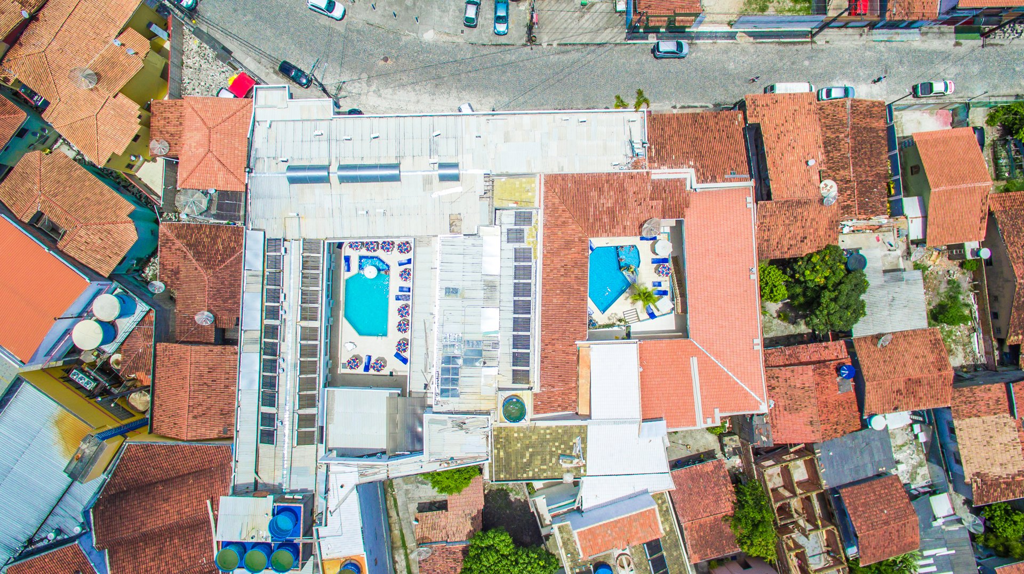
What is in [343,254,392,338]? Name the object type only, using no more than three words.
swimming pool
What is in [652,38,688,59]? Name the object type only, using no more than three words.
car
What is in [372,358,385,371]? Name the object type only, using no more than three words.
umbrella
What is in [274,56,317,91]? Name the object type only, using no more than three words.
car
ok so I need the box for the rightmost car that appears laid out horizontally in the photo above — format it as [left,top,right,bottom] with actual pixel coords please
[913,78,953,98]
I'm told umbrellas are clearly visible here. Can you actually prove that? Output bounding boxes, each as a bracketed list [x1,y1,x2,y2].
[365,242,378,253]
[372,358,385,371]
[347,355,360,368]
[363,265,378,280]
[396,341,409,354]
[349,243,362,251]
[398,320,409,333]
[654,295,674,313]
[657,264,671,278]
[399,270,410,282]
[380,242,393,252]
[653,239,671,257]
[399,305,409,318]
[396,242,409,254]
